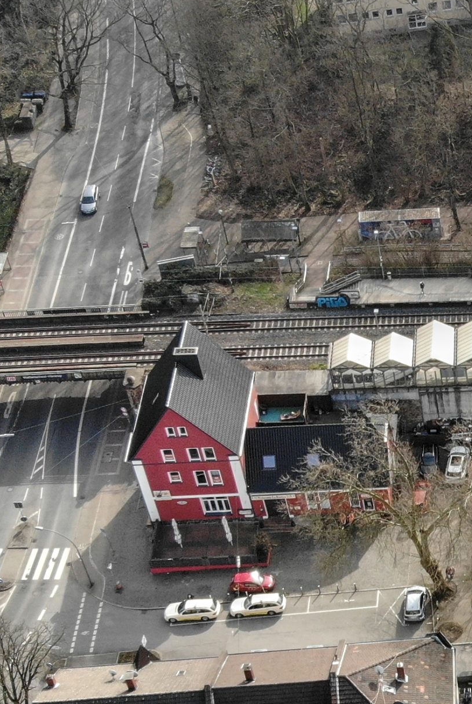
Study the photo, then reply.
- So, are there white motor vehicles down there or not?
Yes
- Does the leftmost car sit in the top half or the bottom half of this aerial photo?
top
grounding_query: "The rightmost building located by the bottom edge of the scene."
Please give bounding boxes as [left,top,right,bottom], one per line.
[333,627,464,704]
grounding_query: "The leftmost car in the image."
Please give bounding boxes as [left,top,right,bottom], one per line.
[78,187,101,215]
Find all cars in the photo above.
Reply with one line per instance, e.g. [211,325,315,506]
[167,598,224,625]
[230,590,287,617]
[447,445,471,478]
[229,570,274,593]
[404,580,429,622]
[419,444,441,478]
[78,187,101,215]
